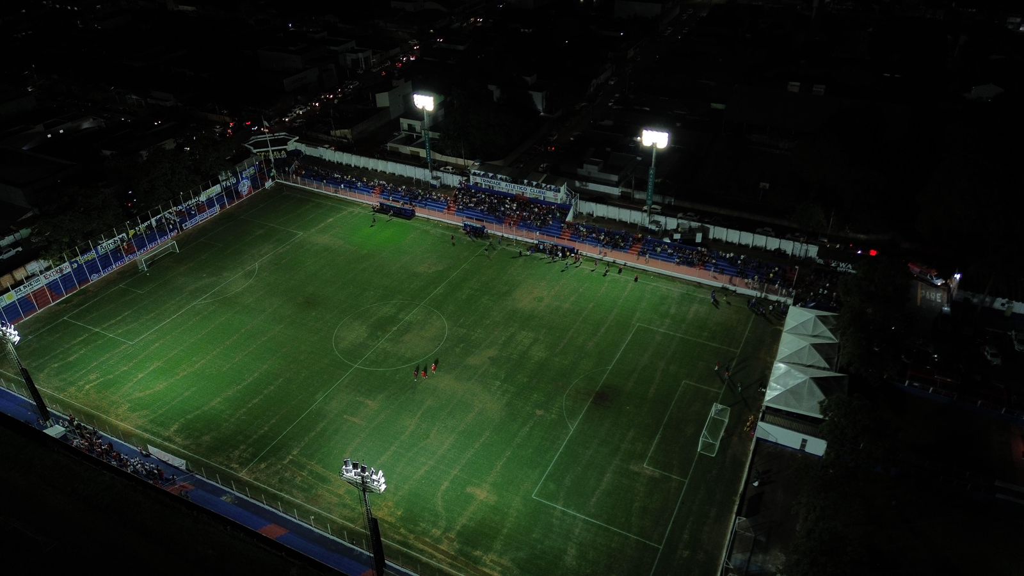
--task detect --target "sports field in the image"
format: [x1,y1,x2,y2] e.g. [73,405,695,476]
[0,180,797,576]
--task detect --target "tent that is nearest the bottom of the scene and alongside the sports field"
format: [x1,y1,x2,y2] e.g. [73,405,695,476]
[766,361,845,439]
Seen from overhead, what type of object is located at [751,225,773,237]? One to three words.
vehicle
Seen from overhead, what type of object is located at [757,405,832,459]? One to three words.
building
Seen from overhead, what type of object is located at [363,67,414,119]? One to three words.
house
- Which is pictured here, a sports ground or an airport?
sports ground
